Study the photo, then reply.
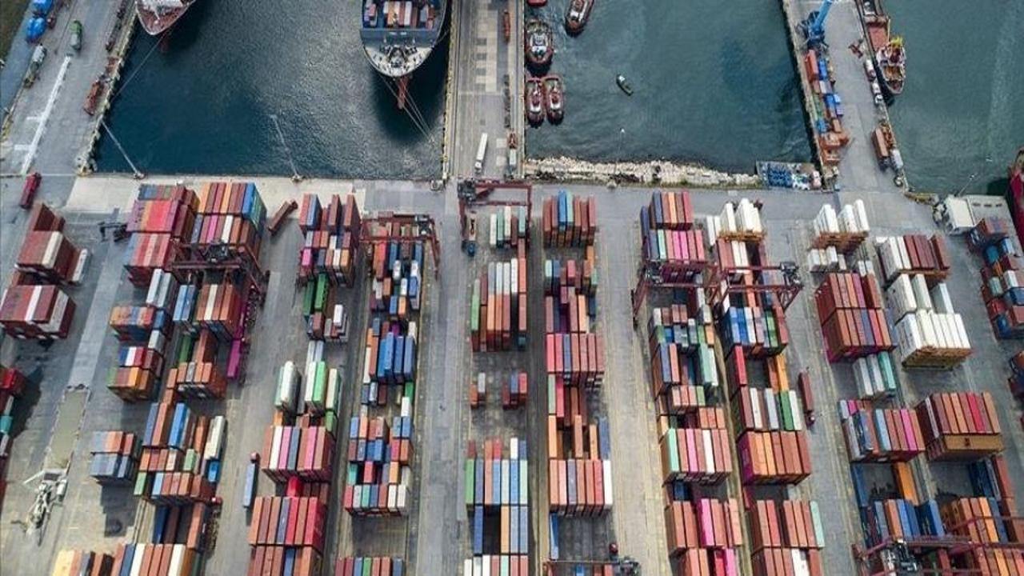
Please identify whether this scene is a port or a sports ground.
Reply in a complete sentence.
It's a port.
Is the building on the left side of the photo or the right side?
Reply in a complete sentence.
The building sits on the right side.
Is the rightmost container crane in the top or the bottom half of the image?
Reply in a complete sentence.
The bottom half of the photo is where the rightmost container crane is.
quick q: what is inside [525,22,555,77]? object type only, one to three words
boat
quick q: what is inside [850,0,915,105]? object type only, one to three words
ship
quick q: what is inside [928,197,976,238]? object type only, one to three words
building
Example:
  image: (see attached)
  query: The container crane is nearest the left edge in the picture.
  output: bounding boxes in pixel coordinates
[166,239,268,299]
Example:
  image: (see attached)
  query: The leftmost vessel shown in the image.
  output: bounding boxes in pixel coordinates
[142,0,207,59]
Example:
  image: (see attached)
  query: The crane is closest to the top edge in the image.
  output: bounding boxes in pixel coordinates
[792,0,839,53]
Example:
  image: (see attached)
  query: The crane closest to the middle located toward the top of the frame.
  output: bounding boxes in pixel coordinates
[458,180,534,240]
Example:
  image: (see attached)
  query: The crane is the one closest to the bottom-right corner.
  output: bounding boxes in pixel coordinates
[938,512,1024,564]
